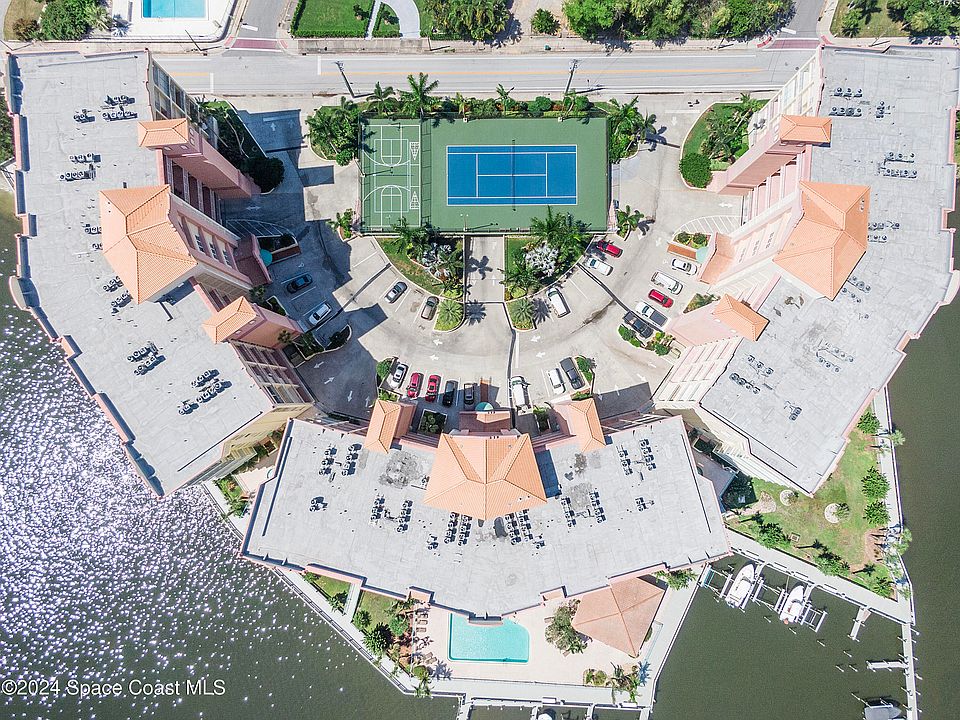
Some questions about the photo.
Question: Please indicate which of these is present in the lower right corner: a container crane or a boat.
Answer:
boat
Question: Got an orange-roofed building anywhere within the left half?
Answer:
No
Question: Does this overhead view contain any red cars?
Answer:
Yes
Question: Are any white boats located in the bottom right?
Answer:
Yes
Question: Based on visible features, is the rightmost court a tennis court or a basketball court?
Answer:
tennis court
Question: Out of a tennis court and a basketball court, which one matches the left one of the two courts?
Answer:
basketball court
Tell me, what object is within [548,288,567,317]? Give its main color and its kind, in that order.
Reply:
white vehicle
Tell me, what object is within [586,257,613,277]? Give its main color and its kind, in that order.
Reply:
white car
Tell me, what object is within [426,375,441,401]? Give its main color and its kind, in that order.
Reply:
red car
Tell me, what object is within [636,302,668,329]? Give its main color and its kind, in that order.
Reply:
white truck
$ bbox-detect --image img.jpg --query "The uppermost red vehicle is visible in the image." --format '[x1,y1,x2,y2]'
[595,238,621,258]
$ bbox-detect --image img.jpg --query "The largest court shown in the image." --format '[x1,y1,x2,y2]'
[422,117,609,231]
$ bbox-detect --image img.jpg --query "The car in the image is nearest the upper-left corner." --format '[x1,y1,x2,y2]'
[287,273,313,293]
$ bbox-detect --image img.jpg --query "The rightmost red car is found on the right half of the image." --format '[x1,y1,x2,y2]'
[648,289,673,308]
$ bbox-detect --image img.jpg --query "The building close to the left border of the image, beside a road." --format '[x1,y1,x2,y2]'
[6,50,318,502]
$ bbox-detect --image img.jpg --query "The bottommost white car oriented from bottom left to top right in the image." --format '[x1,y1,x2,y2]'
[387,362,409,388]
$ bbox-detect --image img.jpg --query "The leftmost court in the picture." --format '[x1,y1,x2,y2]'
[361,114,421,231]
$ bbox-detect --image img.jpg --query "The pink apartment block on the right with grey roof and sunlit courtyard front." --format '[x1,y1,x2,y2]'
[654,46,960,497]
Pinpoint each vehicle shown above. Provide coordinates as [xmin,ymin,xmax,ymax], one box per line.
[512,374,528,409]
[622,311,652,338]
[561,356,583,390]
[442,379,458,406]
[387,362,409,388]
[650,271,682,295]
[420,294,440,320]
[463,382,474,405]
[384,280,409,303]
[636,302,668,329]
[586,257,613,277]
[595,238,621,258]
[648,289,673,308]
[548,368,563,394]
[426,375,441,401]
[548,288,567,317]
[308,304,333,325]
[287,273,313,293]
[407,371,424,398]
